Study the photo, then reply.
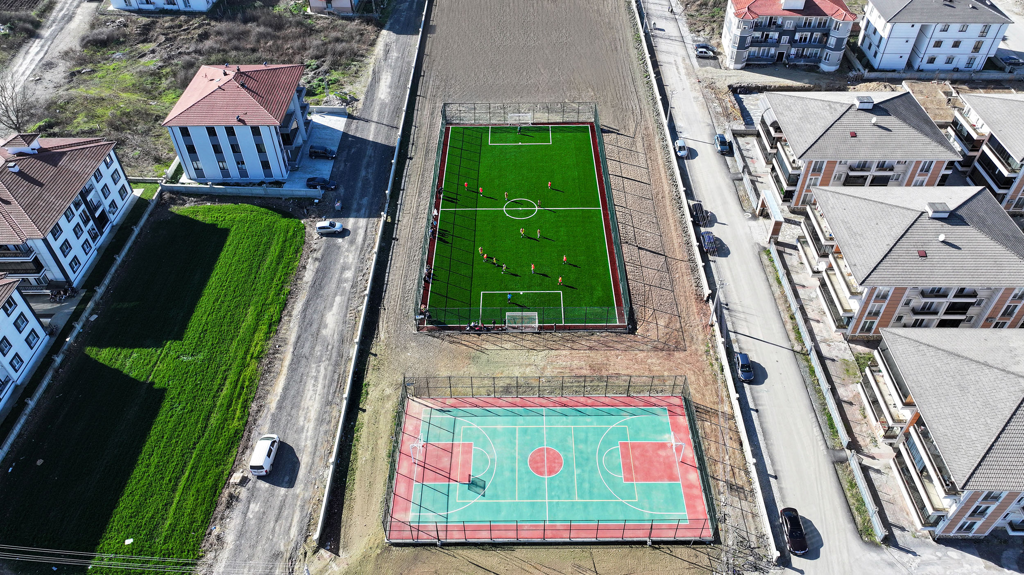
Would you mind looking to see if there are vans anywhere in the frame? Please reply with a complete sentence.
Yes, the picture does show a van.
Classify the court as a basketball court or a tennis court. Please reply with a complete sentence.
It looks like the court is a basketball court.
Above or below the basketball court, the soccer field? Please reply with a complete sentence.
The position of the soccer field is above the basketball court.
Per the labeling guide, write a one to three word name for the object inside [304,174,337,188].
car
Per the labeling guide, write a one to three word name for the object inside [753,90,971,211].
building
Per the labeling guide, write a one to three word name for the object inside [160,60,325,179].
house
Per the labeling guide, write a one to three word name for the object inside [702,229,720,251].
car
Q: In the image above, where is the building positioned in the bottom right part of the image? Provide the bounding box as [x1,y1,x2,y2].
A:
[855,327,1024,542]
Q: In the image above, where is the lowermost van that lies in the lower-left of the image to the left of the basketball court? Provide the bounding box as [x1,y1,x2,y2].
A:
[242,434,280,478]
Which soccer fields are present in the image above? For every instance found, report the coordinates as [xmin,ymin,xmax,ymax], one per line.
[414,121,629,332]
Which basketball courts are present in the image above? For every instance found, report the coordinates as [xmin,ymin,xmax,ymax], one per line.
[387,394,714,542]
